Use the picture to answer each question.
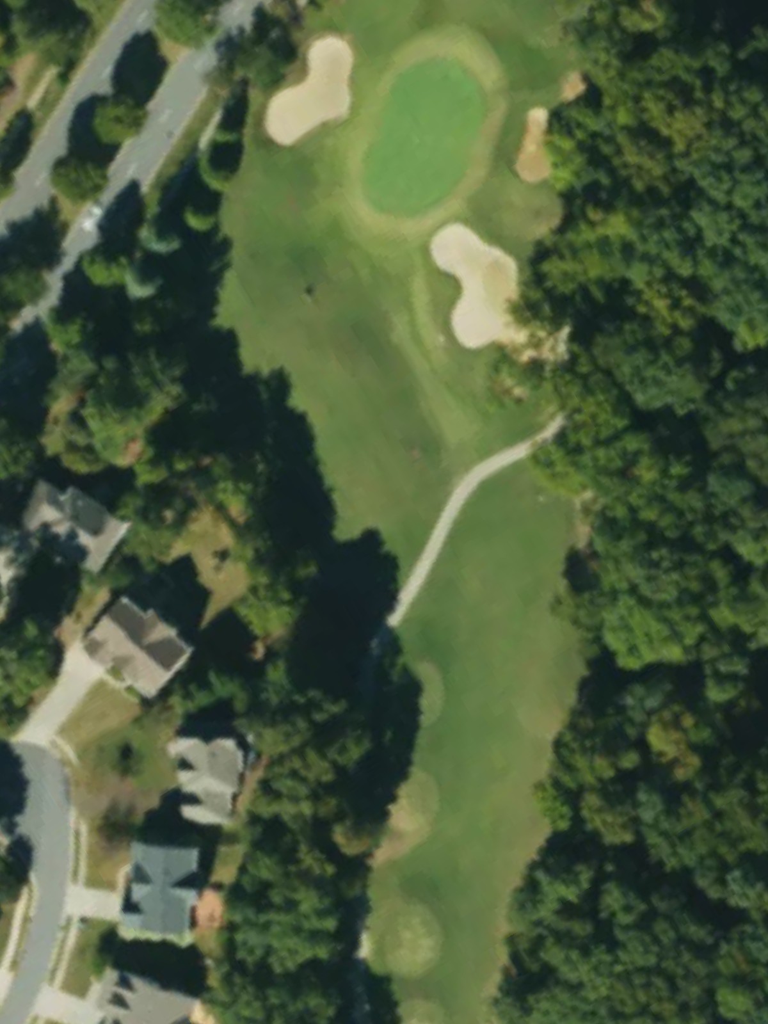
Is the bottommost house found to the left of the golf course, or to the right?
left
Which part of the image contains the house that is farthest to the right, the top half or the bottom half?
bottom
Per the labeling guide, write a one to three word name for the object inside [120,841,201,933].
house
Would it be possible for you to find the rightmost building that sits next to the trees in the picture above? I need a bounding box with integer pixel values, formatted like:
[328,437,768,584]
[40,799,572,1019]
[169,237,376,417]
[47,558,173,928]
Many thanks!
[168,735,243,824]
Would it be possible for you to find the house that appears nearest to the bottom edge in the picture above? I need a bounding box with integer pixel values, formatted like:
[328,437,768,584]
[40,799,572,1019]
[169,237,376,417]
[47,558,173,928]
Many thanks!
[83,964,201,1024]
